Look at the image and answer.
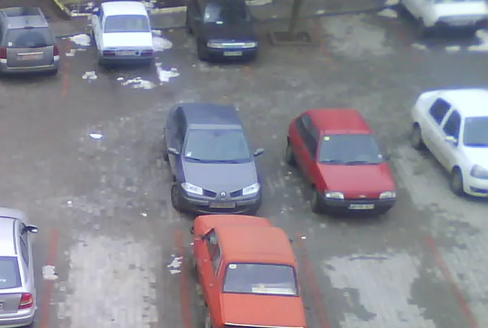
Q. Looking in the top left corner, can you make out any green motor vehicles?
No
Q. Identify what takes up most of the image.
paved ground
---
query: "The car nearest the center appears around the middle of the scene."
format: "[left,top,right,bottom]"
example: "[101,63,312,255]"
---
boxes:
[158,104,262,213]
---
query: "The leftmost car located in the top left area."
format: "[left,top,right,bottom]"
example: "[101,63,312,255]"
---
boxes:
[0,2,57,77]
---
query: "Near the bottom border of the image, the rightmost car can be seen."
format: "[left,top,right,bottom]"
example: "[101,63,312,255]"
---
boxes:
[186,214,311,328]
